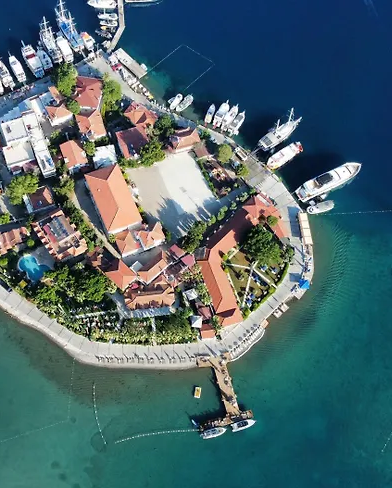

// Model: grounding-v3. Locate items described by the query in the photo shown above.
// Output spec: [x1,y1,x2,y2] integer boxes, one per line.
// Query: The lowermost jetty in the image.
[196,353,253,431]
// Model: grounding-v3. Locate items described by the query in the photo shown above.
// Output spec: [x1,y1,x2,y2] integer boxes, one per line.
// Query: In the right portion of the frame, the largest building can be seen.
[199,194,291,329]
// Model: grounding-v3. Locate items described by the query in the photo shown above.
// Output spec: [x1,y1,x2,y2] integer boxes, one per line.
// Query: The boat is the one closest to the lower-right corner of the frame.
[230,418,257,431]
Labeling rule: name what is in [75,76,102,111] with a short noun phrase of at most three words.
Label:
house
